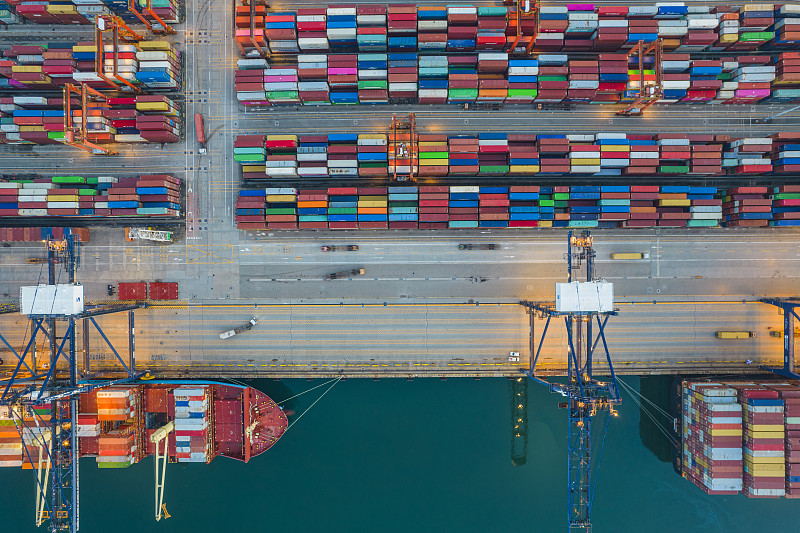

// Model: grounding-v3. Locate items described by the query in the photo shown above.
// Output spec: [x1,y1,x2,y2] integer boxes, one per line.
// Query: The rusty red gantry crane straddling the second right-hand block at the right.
[617,37,661,110]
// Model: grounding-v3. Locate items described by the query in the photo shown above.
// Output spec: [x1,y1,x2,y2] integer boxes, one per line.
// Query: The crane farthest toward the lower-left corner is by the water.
[25,421,69,527]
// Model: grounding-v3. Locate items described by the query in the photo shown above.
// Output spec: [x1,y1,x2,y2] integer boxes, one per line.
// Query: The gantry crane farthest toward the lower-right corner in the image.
[756,301,800,383]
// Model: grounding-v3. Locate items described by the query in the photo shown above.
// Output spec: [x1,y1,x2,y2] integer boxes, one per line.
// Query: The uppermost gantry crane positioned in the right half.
[505,0,541,56]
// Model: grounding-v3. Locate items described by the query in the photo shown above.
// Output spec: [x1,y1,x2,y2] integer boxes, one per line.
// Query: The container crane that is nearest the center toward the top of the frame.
[388,113,418,185]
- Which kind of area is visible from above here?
port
